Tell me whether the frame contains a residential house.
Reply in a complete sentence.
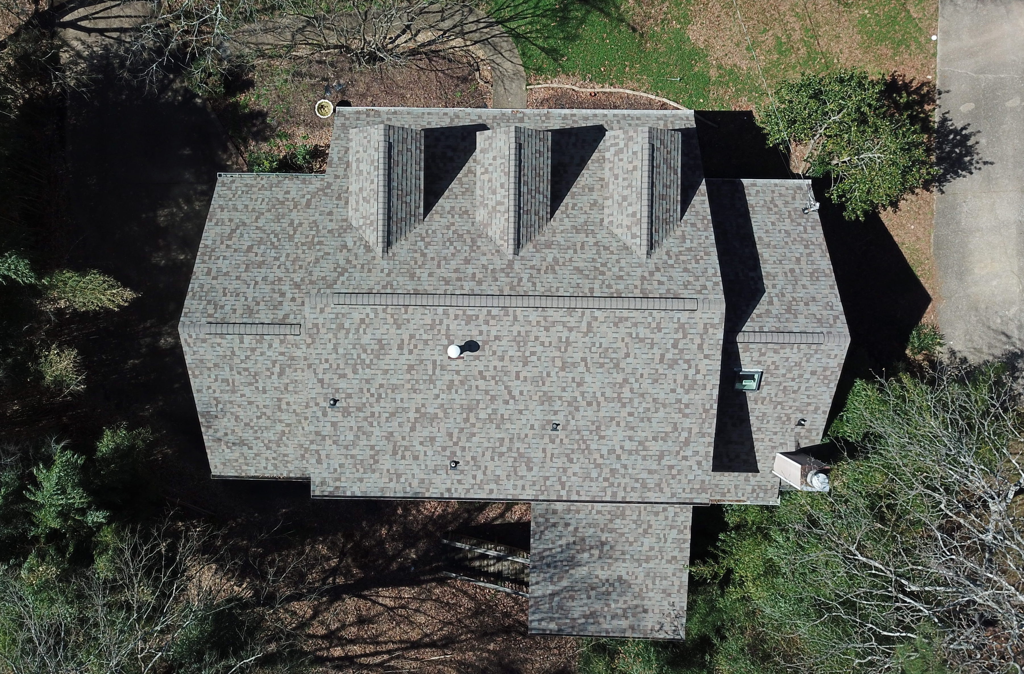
Yes, there's a residential house here.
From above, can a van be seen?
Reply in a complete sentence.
No, there appears to be no van in this shot.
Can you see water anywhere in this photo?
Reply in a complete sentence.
No, no water is visible.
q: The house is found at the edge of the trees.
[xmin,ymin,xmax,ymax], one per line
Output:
[177,105,851,641]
